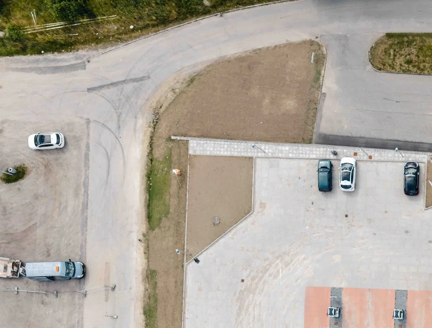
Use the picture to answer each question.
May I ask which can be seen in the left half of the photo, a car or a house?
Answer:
car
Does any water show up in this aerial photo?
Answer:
No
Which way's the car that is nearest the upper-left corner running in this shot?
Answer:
from left to right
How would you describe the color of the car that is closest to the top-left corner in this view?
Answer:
white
